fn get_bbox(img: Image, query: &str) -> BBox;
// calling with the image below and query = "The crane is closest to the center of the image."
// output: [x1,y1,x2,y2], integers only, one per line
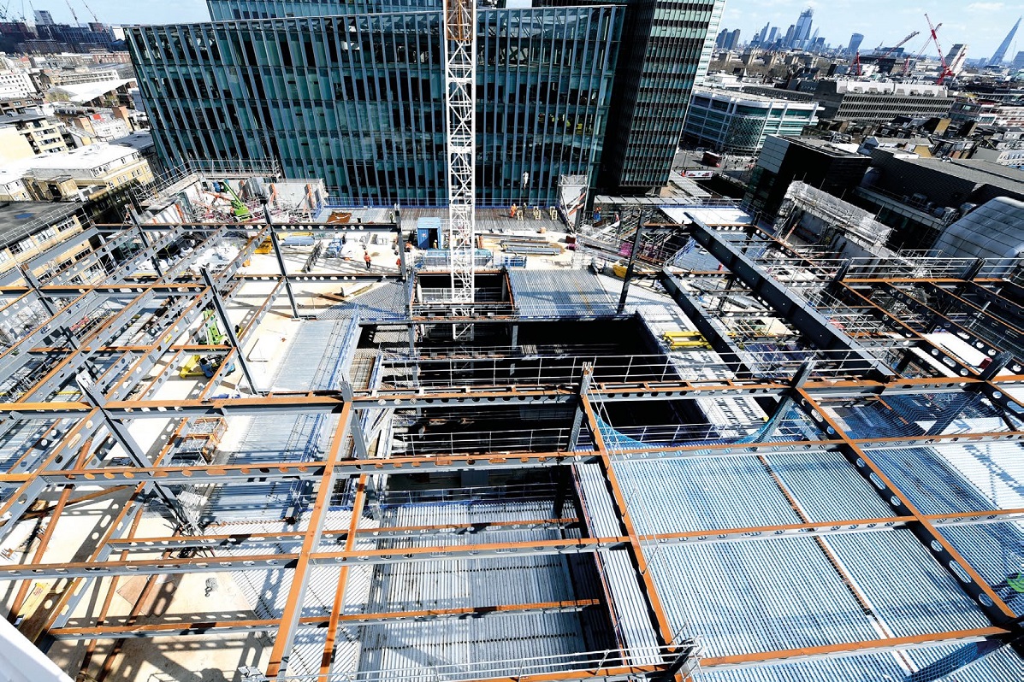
[442,0,480,358]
